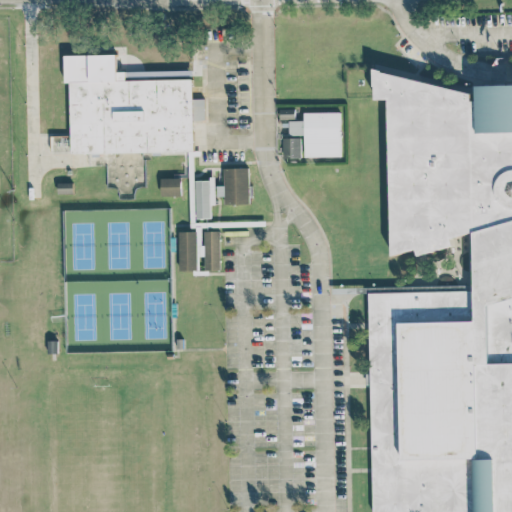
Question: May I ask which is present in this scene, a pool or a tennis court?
tennis court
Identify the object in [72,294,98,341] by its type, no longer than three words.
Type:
tennis court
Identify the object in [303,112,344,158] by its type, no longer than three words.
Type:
building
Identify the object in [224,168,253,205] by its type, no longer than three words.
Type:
building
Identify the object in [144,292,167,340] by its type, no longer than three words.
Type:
tennis court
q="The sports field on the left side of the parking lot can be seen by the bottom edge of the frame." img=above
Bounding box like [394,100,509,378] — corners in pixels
[54,388,152,512]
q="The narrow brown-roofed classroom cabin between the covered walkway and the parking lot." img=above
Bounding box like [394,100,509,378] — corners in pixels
[204,232,221,271]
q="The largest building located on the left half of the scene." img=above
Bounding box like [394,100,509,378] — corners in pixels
[63,46,196,154]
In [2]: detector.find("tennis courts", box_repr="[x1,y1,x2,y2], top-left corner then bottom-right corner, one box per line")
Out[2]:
[142,221,168,268]
[109,293,132,340]
[144,292,167,340]
[72,294,98,341]
[106,222,132,270]
[72,223,96,270]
